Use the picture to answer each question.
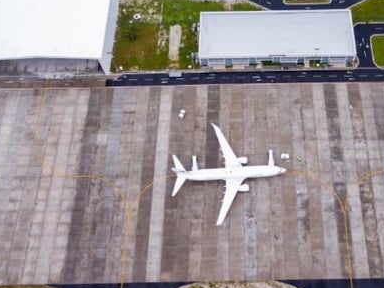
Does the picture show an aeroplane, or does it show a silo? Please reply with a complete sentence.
There is an aeroplane in the scene.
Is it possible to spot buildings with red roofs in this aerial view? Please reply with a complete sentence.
No, the frame has no building with a red roof in it.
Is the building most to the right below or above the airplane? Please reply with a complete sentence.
In the image, the building most to the right sits above the airplane.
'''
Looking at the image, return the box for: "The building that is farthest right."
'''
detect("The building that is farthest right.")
[199,11,356,65]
